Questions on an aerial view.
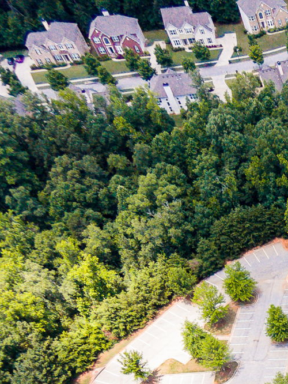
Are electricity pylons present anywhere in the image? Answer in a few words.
No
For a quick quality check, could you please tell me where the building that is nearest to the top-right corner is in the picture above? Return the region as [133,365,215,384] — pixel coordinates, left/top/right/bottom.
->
[237,0,288,33]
